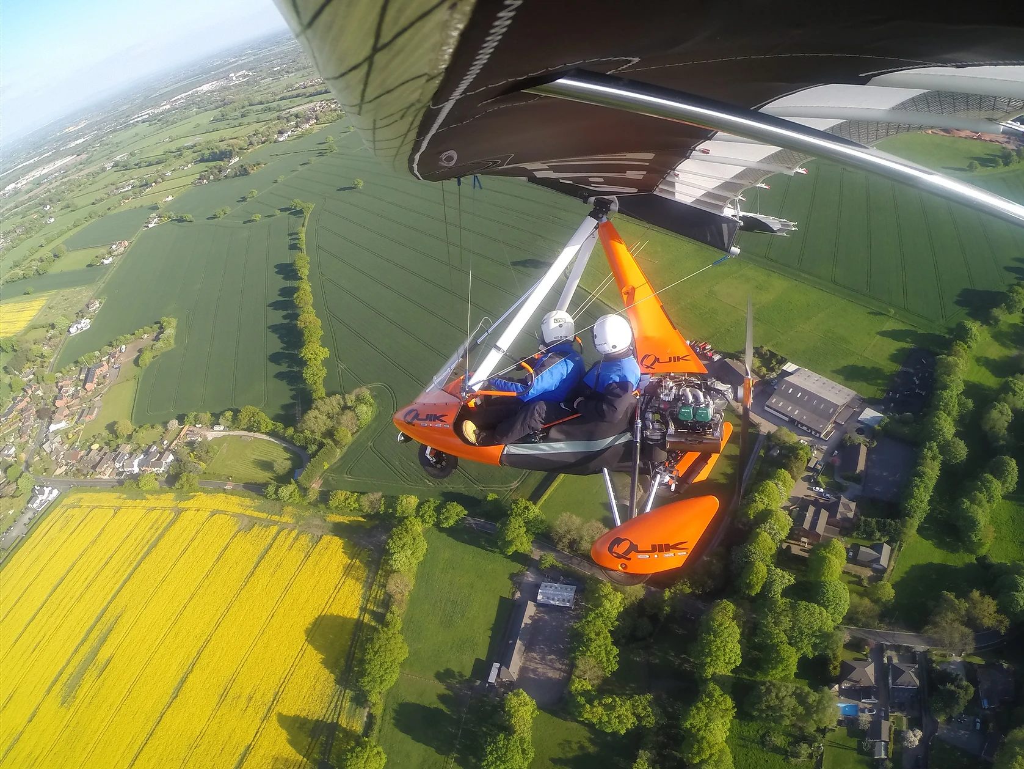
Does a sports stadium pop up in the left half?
No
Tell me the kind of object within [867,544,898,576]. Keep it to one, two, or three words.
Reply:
building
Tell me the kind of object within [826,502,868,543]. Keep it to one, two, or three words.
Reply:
house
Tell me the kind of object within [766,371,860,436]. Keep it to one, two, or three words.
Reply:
barn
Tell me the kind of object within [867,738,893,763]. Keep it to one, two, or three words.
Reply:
shed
